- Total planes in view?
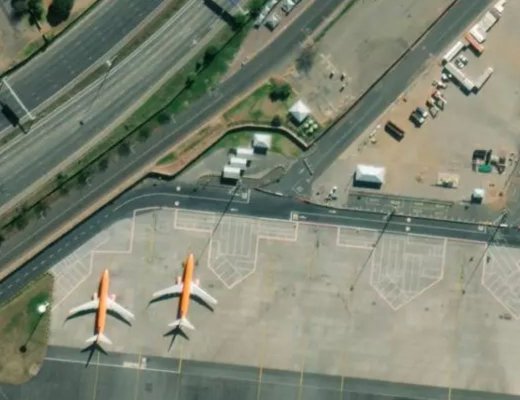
2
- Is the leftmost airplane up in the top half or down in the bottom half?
bottom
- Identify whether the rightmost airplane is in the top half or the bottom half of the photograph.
bottom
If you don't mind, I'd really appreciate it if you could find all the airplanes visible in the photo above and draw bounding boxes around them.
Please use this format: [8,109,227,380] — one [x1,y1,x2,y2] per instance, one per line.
[154,253,217,330]
[70,269,134,345]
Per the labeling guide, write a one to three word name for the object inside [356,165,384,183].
house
